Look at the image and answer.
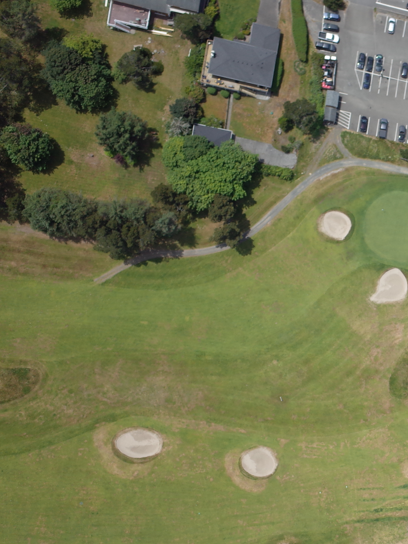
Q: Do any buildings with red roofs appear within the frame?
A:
No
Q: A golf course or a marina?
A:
golf course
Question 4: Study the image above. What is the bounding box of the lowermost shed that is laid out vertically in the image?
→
[324,90,340,123]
